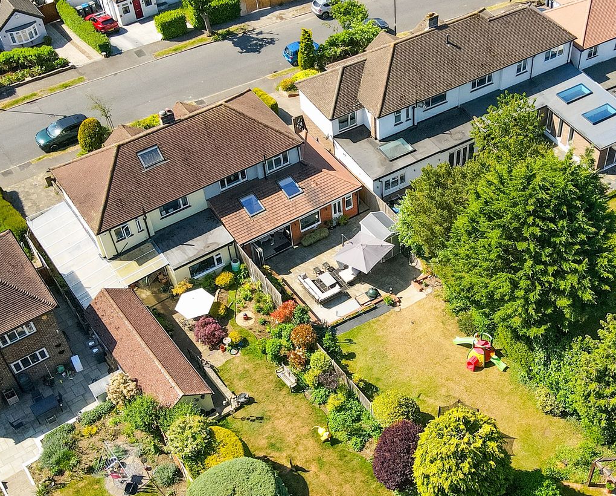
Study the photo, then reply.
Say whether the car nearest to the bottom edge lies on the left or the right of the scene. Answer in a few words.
left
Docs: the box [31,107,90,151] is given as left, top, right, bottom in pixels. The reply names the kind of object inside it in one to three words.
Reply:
car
